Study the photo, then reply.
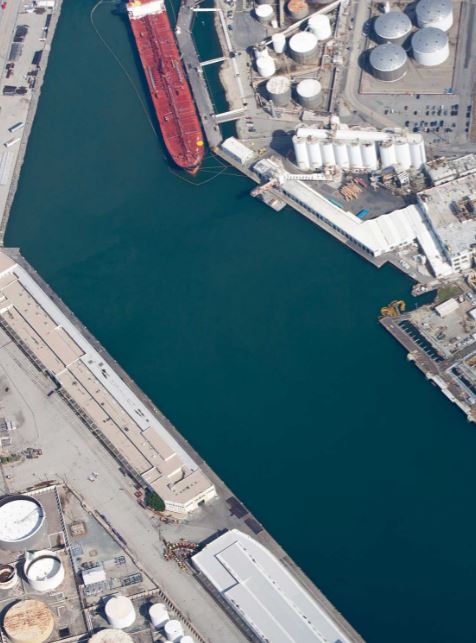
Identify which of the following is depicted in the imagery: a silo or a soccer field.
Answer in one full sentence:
I can see a silo in this picture.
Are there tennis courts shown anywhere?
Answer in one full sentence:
No, the picture doesn't show any tennis court.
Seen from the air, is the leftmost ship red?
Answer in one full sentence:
Yes, the leftmost ship appears red.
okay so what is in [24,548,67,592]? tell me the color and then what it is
white storage tank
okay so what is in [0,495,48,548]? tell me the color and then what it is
white storage tank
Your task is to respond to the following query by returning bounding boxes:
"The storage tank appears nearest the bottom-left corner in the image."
[4,598,57,643]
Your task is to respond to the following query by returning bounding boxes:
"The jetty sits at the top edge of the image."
[176,0,221,147]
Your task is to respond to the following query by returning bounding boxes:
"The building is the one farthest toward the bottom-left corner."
[82,567,108,588]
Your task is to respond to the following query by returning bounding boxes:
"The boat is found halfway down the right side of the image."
[411,284,438,298]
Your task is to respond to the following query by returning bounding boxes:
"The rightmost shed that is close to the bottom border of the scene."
[188,529,350,643]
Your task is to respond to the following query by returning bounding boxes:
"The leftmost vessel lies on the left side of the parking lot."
[122,0,210,176]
